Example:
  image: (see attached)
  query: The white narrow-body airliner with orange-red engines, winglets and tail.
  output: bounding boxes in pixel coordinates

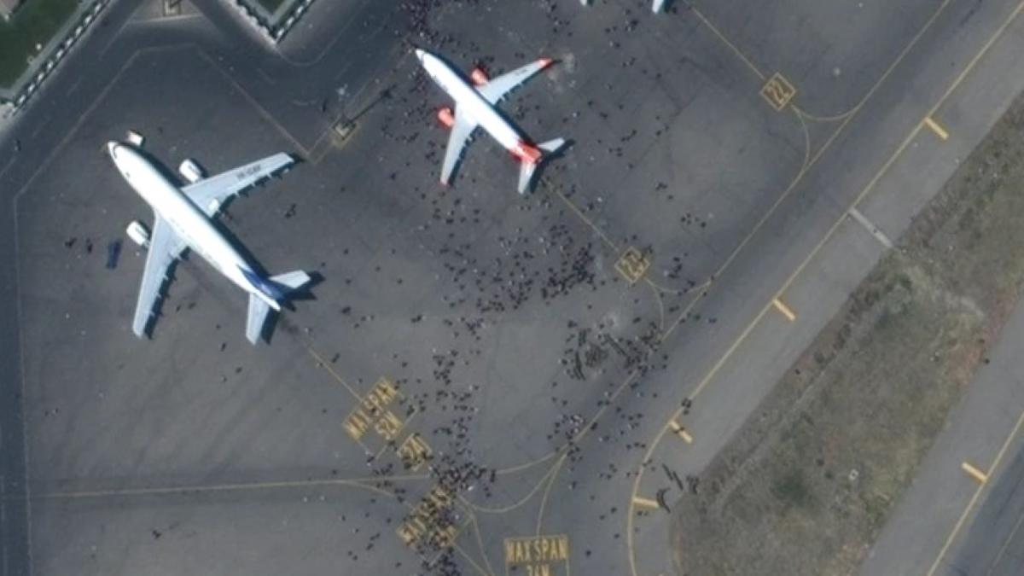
[416,48,567,195]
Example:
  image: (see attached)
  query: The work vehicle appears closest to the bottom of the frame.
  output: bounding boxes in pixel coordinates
[103,236,120,269]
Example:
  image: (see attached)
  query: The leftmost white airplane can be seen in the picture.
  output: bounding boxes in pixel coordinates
[107,142,310,344]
